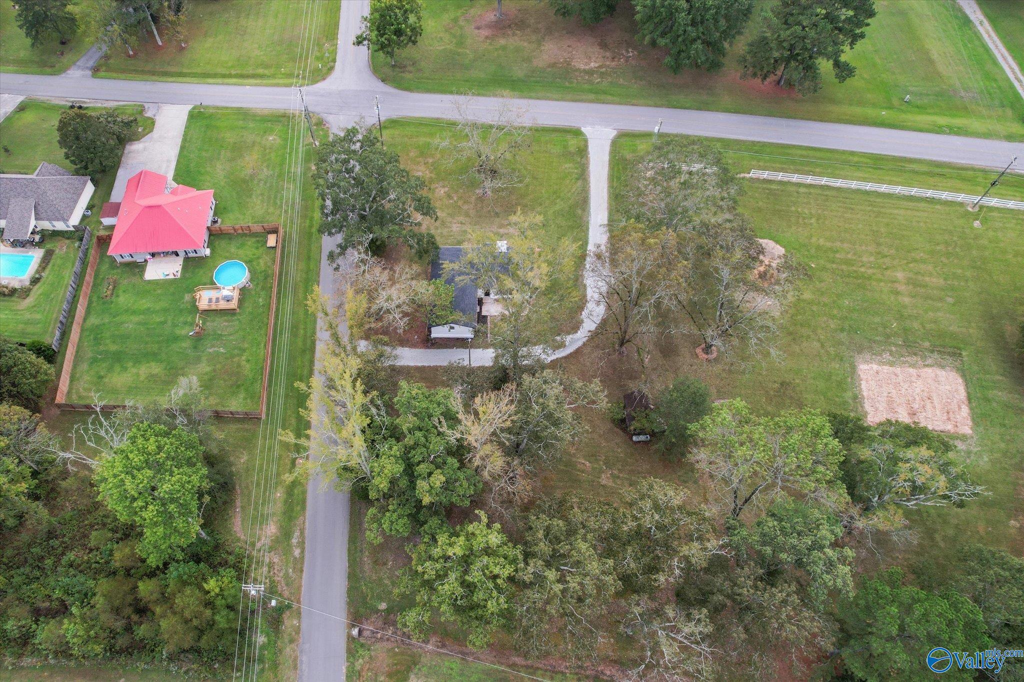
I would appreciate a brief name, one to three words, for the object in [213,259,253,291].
swimming pool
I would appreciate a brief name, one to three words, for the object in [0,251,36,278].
swimming pool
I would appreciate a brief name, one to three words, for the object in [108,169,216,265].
house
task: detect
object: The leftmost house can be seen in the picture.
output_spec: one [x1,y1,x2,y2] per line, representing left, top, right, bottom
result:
[0,162,97,247]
